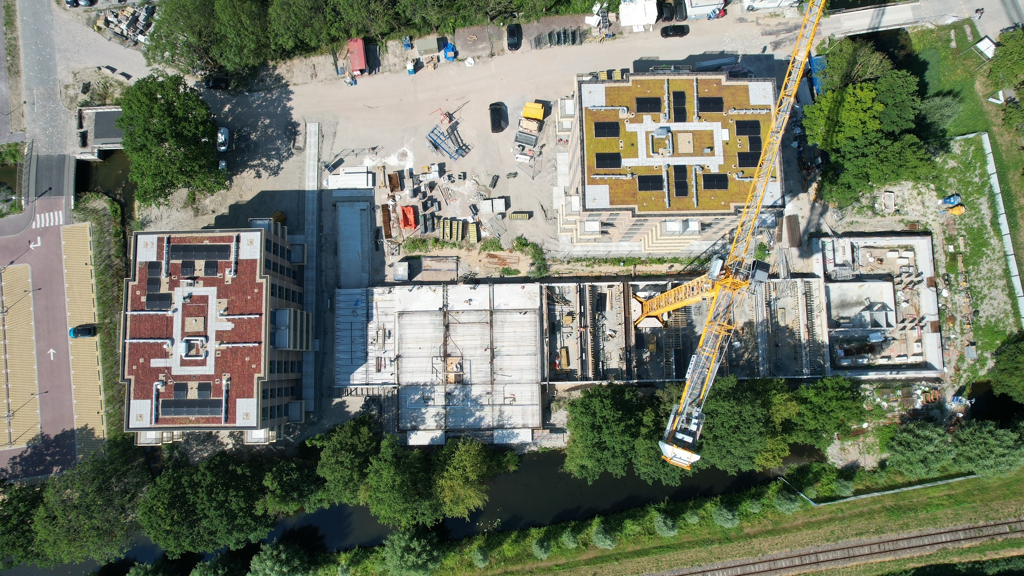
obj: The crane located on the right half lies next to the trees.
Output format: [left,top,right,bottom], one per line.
[635,0,825,472]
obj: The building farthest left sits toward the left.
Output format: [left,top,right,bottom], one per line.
[116,219,314,445]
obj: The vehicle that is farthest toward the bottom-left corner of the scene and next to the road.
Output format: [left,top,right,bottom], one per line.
[70,326,96,339]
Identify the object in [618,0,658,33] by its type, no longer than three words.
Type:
building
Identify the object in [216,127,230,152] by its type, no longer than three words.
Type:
car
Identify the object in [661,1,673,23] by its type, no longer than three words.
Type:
vehicle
